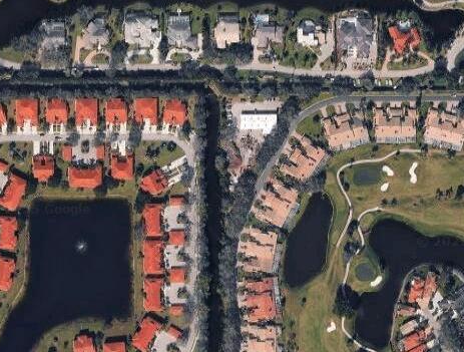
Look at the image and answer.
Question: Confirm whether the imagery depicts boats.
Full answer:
No, no boat is visible in the view.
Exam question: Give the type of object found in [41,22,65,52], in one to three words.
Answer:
house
